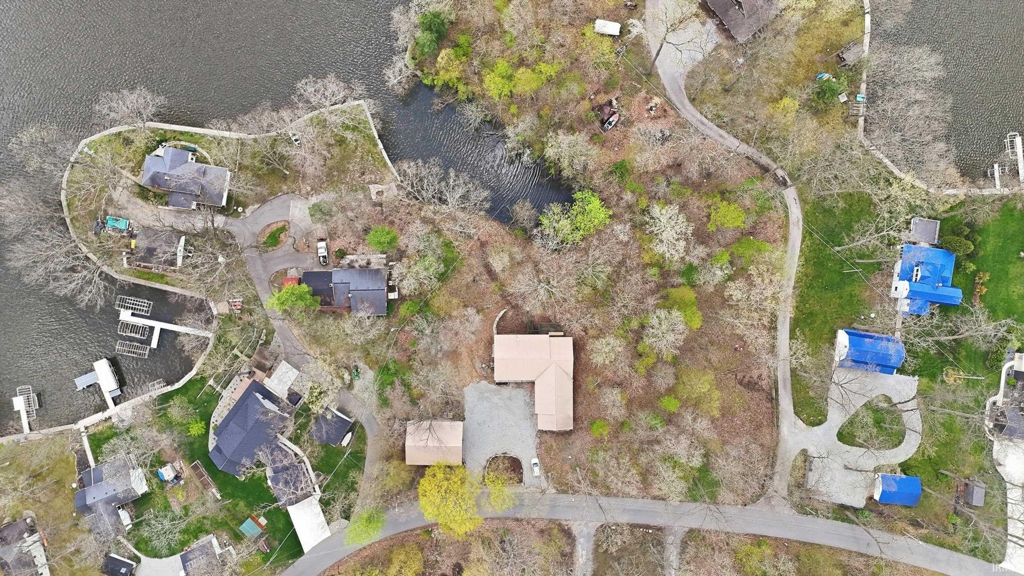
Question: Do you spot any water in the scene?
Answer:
Yes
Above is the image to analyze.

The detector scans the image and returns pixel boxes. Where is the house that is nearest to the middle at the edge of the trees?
[491,322,574,431]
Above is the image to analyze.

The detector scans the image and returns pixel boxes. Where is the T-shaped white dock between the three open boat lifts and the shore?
[119,310,211,348]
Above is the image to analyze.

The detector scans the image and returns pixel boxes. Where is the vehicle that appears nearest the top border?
[590,22,621,39]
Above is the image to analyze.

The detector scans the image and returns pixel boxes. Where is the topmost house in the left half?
[141,145,234,210]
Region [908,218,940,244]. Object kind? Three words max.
shed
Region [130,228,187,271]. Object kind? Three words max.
house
